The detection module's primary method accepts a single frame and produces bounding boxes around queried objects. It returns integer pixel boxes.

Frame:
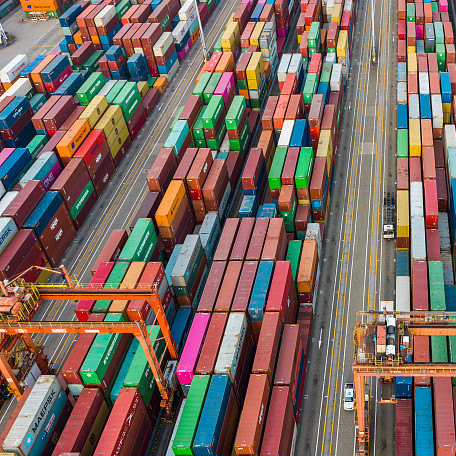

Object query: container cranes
[349,313,456,456]
[0,267,183,428]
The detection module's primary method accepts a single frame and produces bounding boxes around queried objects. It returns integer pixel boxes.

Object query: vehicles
[340,379,354,408]
[381,188,395,236]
